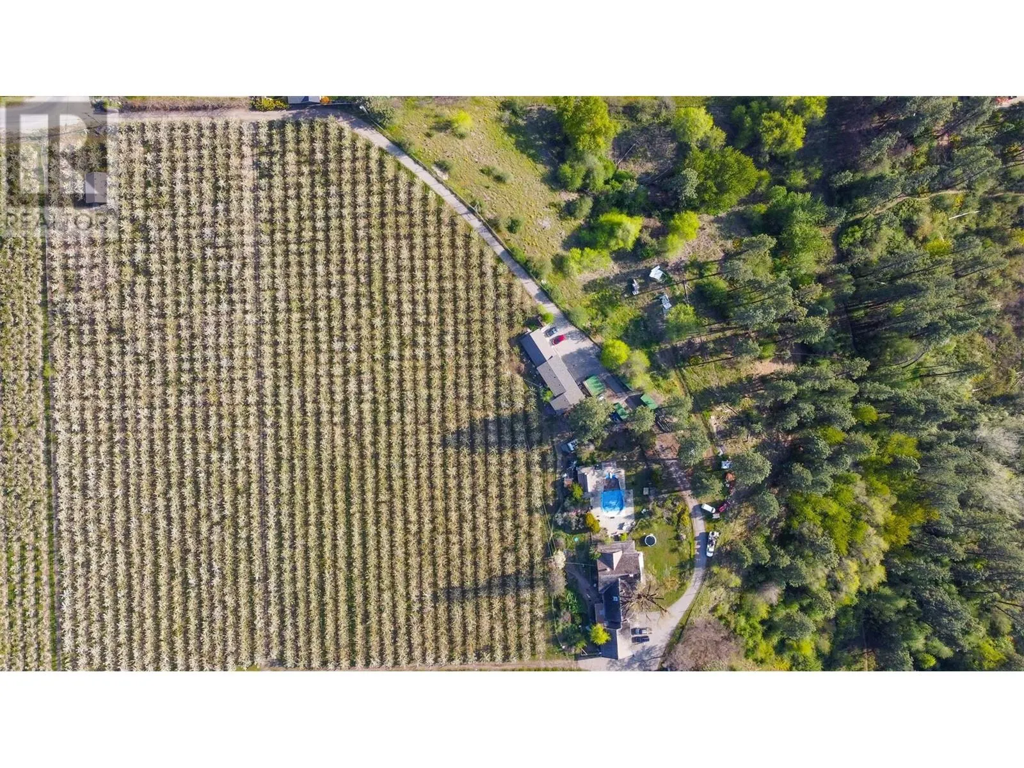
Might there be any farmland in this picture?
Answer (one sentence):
Yes, there's farmland in this view.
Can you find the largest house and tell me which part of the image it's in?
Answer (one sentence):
The largest house is in the bottom part of the image.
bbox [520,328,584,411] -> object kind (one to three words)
building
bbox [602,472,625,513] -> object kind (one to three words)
swimming pool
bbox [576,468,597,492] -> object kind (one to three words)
building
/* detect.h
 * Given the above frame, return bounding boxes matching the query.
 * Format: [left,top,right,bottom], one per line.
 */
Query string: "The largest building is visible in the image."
[594,540,645,659]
